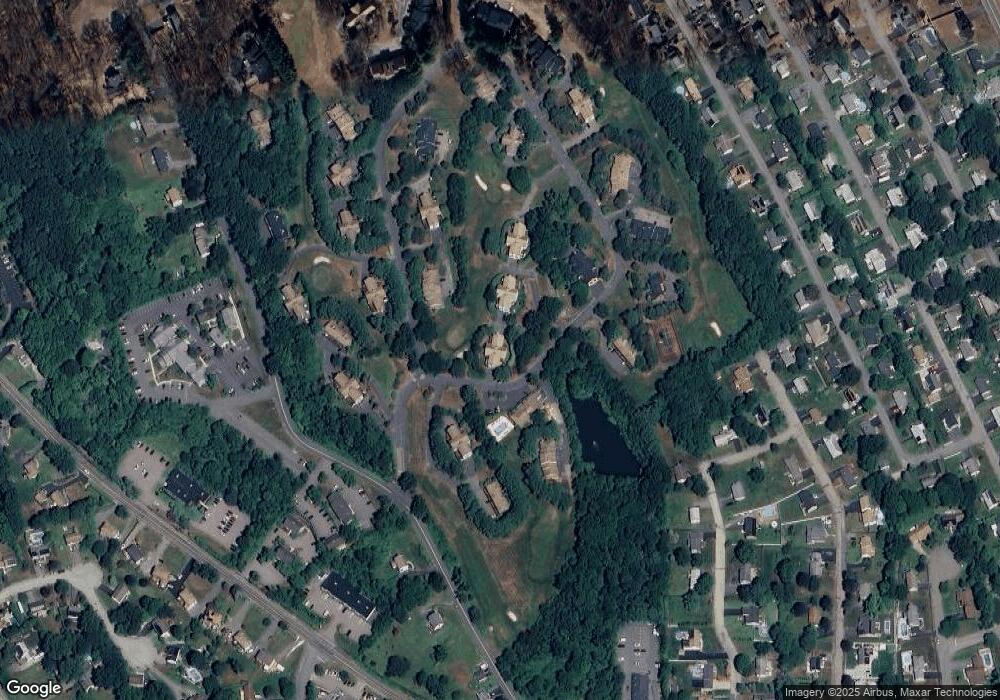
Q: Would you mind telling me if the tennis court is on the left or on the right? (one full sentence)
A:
The tennis court sits on the right side.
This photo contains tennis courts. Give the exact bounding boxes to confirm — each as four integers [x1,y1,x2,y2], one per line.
[647,317,683,362]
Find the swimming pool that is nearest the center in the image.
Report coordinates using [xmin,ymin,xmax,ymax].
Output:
[487,415,515,441]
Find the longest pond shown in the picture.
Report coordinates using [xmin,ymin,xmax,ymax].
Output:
[572,398,640,474]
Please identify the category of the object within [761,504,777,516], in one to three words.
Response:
swimming pool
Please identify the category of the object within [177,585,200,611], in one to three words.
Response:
house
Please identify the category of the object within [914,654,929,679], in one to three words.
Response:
house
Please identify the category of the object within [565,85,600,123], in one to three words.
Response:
building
